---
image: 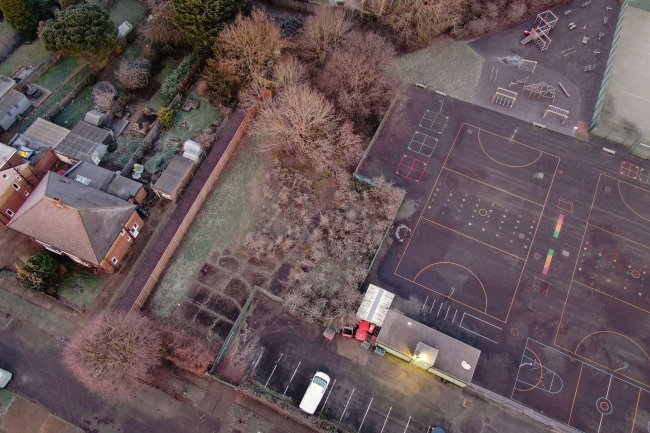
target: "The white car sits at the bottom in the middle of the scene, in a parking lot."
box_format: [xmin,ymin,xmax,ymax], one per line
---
[300,371,329,413]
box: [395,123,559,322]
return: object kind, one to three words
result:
sports court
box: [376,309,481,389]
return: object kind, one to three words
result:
building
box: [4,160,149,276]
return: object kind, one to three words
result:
house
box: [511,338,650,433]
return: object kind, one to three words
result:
basketball court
